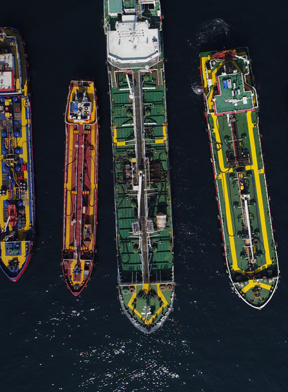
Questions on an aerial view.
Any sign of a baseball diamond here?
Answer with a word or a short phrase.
No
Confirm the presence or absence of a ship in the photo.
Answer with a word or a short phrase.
Yes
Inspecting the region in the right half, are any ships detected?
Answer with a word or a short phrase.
Yes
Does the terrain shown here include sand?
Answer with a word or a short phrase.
No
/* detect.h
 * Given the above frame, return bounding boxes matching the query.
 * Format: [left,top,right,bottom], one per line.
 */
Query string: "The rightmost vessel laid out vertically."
[198,47,279,310]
